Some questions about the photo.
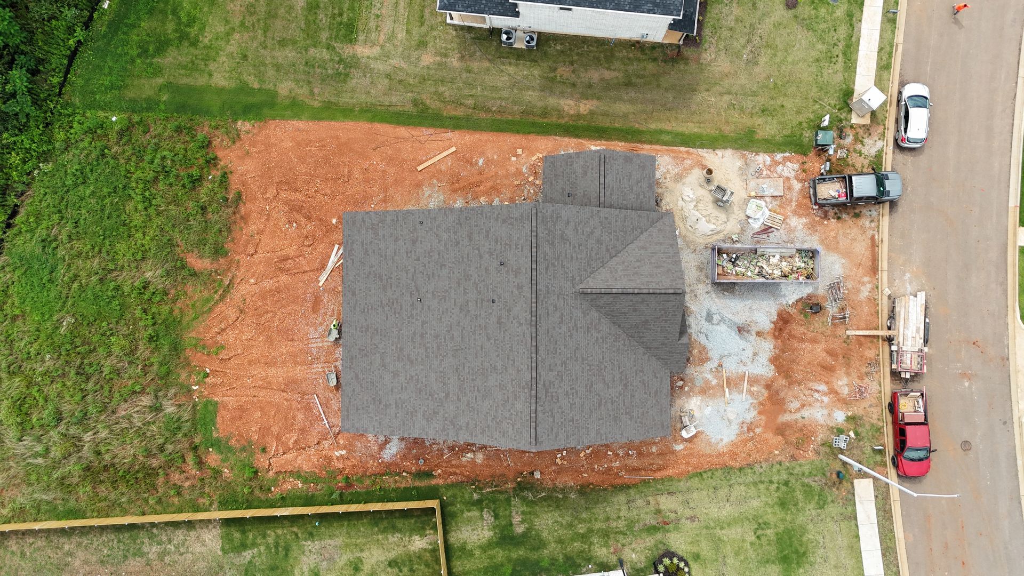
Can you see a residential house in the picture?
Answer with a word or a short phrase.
Yes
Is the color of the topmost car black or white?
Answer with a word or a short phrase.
white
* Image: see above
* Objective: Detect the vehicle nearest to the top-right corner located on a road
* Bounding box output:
[895,85,935,148]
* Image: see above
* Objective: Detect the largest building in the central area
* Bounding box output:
[342,149,689,450]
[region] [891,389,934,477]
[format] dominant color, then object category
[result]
red truck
